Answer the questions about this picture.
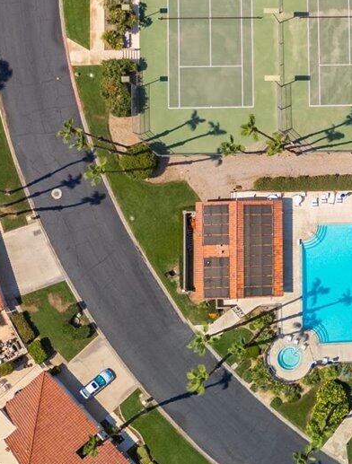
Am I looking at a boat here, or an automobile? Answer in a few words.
automobile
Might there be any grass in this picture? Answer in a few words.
Yes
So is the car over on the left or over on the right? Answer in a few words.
left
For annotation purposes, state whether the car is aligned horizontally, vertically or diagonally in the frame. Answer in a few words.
diagonally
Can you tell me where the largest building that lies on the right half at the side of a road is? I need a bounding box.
[195,200,283,299]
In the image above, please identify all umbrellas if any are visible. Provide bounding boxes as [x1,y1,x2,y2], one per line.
[293,195,305,207]
[269,191,279,200]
